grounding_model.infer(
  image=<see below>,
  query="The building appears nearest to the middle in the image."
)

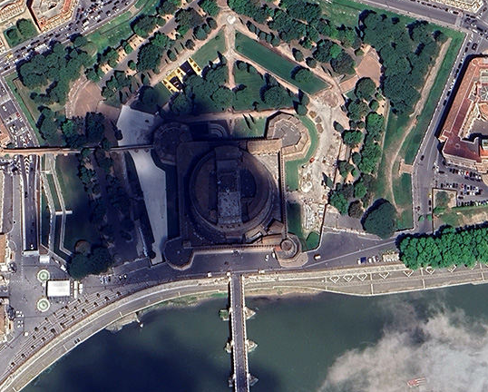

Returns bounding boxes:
[155,112,314,273]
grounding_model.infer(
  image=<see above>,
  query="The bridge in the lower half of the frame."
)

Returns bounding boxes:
[224,274,255,392]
